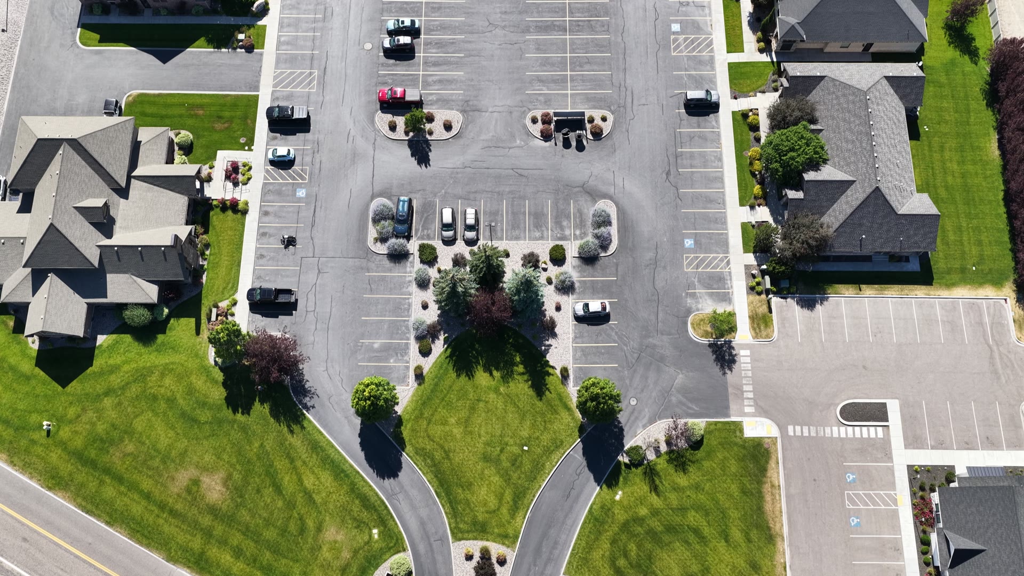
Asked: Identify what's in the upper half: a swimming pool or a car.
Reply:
car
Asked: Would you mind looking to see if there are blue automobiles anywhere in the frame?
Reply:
Yes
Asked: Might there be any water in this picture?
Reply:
No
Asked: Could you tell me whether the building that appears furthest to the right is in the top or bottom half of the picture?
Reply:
bottom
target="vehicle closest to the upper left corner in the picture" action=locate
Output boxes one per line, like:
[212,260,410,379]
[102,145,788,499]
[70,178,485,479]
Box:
[104,95,123,116]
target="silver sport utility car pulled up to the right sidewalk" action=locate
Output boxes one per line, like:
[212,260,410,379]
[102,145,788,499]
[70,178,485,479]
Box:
[683,93,719,110]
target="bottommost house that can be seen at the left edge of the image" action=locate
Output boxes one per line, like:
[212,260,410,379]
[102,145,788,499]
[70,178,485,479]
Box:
[0,116,203,337]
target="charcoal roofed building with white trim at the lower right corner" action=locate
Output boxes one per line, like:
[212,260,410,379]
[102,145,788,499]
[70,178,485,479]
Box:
[921,466,1024,576]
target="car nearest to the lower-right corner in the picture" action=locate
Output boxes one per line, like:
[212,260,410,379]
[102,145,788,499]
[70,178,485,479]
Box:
[573,303,610,319]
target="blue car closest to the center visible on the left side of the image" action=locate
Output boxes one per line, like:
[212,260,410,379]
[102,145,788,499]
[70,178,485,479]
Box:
[394,201,411,237]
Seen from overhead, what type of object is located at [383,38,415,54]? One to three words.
car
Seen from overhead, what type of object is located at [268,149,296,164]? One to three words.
car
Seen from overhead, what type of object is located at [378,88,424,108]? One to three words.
vehicle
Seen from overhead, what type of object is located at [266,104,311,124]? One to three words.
vehicle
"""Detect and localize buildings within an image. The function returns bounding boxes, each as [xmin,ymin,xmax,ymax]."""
[774,0,929,53]
[0,116,203,337]
[71,0,207,15]
[777,63,941,258]
[921,466,1024,576]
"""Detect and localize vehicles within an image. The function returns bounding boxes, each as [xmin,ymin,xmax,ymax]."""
[104,95,123,116]
[573,303,610,319]
[394,201,411,237]
[268,149,296,164]
[266,104,311,124]
[383,38,415,54]
[247,286,298,306]
[387,22,421,37]
[378,88,424,108]
[439,208,456,244]
[0,172,8,201]
[683,93,719,110]
[463,210,479,244]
